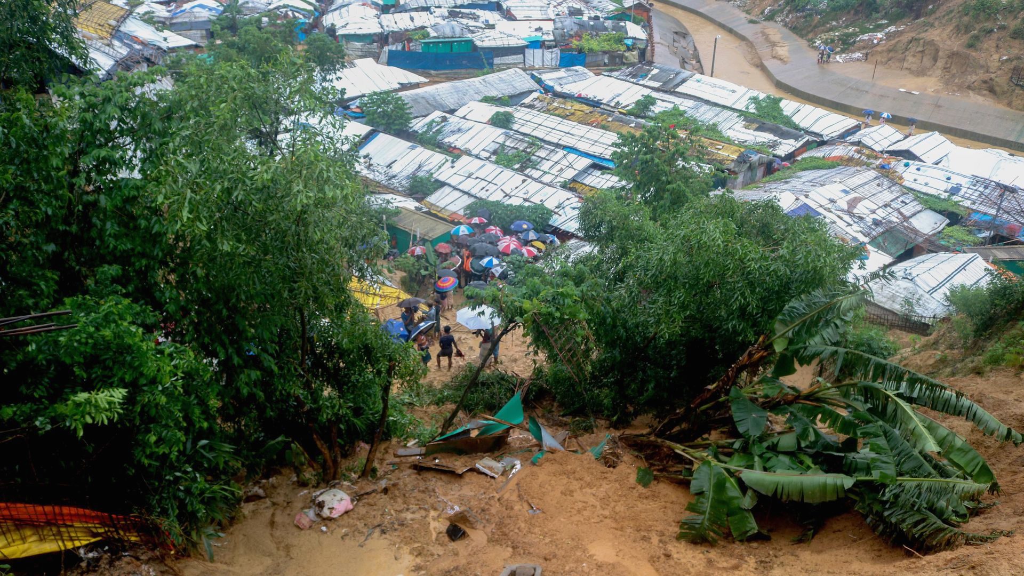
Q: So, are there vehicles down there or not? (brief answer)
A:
No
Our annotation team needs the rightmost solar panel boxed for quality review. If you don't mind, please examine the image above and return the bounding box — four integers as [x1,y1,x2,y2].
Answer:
[943,181,965,197]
